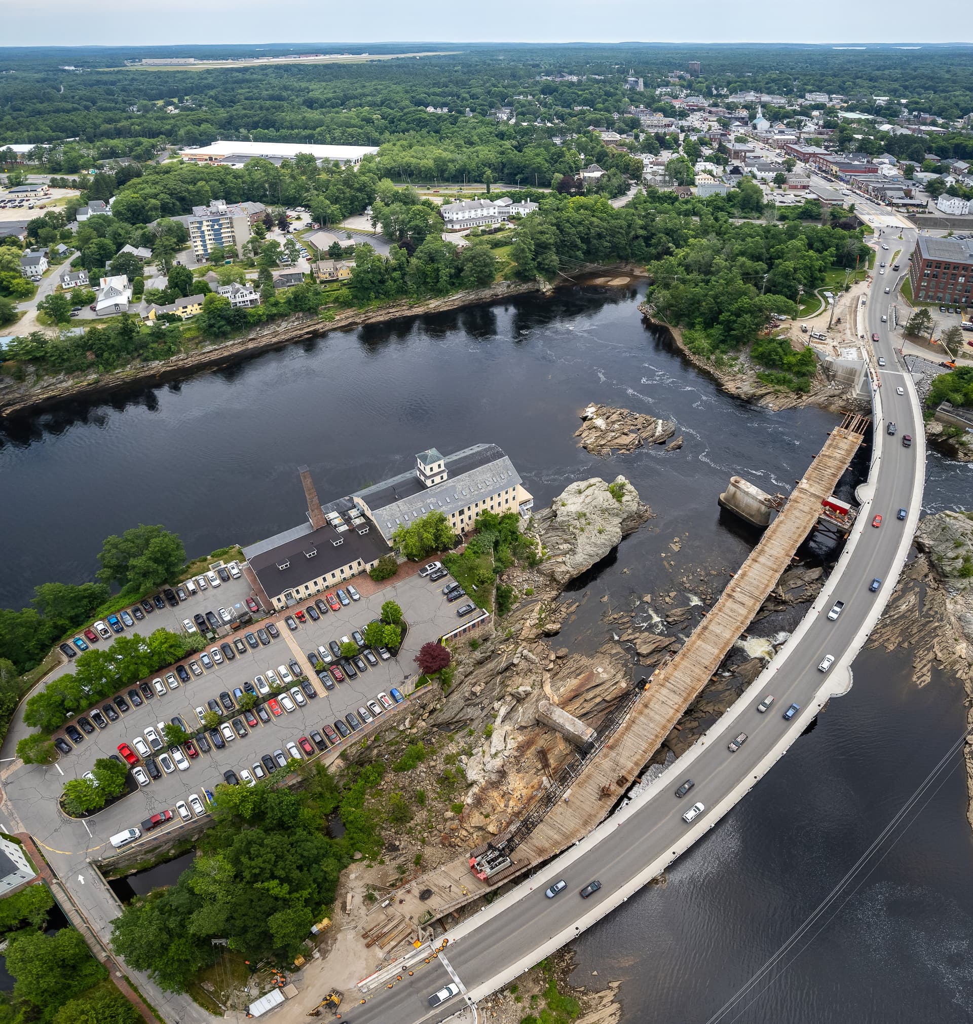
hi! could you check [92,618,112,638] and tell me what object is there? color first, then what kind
white vehicle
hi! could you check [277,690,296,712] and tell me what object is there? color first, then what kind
white car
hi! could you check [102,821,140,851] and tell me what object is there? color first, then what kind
white van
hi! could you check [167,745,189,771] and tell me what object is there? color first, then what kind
white truck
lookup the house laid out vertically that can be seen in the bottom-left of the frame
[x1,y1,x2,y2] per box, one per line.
[0,789,47,891]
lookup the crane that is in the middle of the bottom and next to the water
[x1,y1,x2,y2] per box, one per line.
[464,679,644,894]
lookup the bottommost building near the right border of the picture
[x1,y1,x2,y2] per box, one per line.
[907,219,973,308]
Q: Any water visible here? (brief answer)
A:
Yes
